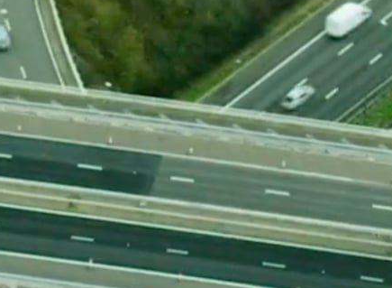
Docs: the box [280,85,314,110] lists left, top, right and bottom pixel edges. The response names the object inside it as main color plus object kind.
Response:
white car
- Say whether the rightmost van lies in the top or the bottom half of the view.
top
